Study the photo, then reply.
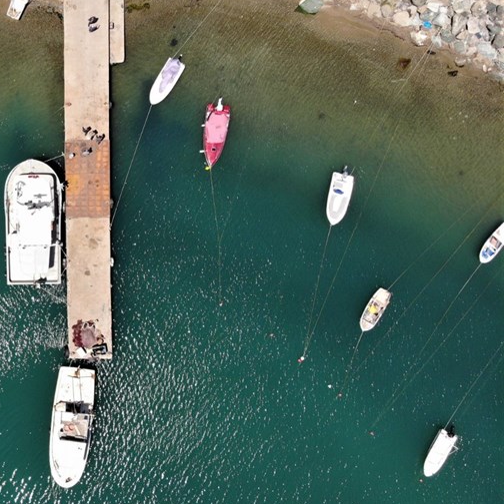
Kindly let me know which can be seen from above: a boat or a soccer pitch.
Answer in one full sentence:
The image shows a boat.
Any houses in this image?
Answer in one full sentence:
No, I find no house anywhere in the image.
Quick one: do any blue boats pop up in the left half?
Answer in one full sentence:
No, in the left half there is no blue boat.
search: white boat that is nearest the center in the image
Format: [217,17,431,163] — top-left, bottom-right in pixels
[325,164,354,225]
